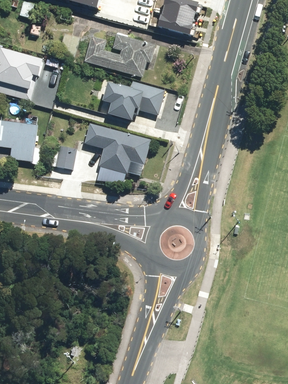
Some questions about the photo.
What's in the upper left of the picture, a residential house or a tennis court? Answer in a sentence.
Visible in the upper left of the picture is a residential house.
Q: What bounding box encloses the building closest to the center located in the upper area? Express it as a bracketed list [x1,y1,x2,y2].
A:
[84,124,150,184]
